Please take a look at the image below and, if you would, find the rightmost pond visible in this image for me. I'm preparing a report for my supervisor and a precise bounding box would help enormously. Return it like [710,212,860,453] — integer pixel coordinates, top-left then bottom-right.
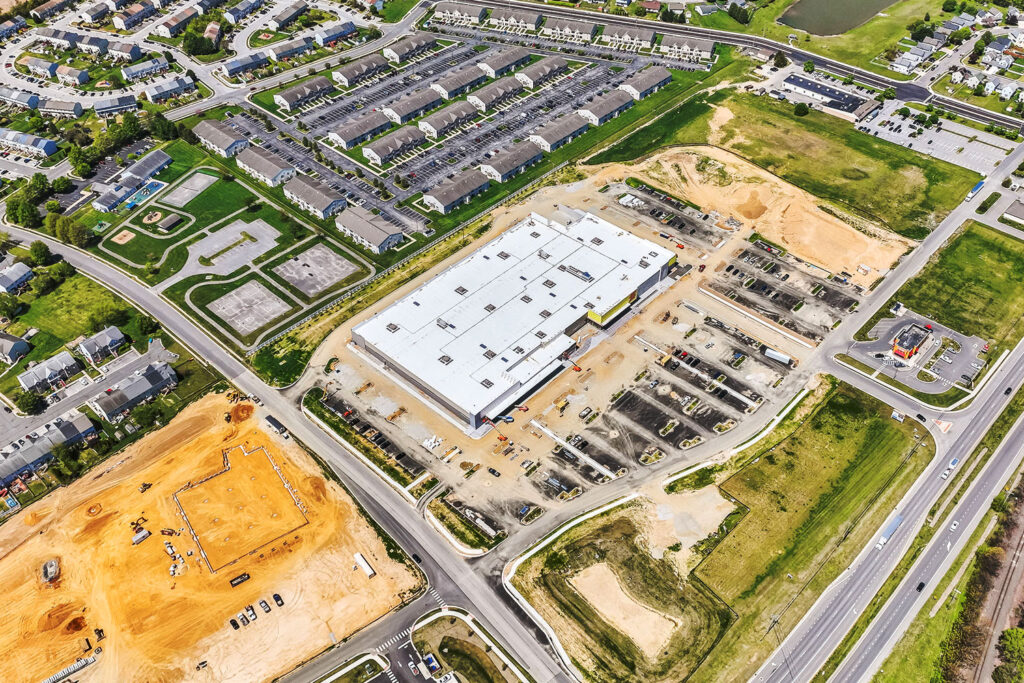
[780,0,897,33]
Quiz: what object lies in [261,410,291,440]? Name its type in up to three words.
truck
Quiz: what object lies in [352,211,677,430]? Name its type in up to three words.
building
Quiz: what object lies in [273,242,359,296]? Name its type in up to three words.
sports court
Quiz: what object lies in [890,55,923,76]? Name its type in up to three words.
house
